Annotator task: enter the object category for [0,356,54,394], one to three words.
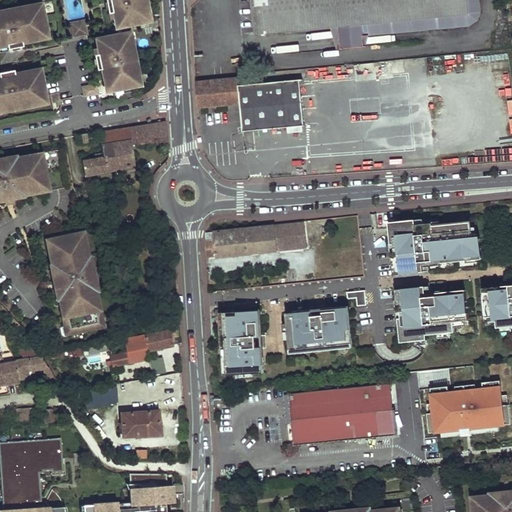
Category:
house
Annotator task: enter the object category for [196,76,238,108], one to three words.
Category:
building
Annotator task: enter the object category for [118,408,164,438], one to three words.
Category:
house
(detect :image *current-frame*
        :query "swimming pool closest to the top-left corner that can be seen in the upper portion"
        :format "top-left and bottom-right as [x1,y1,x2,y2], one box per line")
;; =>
[64,0,86,22]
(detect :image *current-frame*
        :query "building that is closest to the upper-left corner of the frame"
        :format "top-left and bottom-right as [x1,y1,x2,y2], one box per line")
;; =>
[0,2,52,52]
